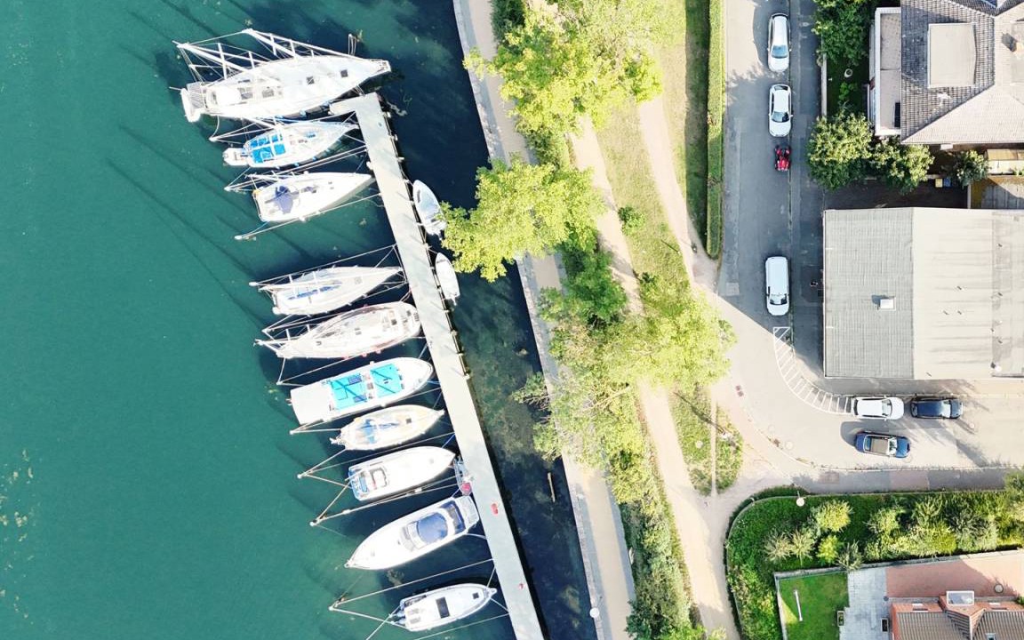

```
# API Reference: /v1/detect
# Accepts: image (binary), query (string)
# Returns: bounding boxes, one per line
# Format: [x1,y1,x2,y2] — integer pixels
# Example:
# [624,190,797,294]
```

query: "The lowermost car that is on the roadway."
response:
[855,434,911,461]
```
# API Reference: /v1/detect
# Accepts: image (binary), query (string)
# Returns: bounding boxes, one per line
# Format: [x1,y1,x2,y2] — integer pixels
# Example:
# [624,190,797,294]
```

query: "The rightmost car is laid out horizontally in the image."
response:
[911,397,964,423]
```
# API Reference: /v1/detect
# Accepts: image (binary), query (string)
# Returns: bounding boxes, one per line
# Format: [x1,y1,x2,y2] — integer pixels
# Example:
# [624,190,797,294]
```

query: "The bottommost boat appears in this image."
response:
[330,565,508,636]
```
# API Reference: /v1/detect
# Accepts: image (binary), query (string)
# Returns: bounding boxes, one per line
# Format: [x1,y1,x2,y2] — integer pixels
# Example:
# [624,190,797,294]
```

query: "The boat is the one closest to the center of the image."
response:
[435,251,461,303]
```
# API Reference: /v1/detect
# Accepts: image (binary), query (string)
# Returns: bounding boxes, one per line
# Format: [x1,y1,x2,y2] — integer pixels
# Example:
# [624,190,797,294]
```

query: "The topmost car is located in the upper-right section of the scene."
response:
[766,13,791,72]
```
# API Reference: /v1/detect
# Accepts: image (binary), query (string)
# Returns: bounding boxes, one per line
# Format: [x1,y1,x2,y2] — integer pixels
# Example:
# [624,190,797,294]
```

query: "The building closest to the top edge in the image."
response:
[871,0,1024,153]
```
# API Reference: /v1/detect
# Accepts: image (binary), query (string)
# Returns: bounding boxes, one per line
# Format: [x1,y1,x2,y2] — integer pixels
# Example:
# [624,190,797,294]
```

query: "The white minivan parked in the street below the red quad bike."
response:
[764,257,792,316]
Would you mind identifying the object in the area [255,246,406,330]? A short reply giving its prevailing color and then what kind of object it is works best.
white boat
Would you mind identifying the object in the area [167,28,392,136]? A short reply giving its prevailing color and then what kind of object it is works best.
white boat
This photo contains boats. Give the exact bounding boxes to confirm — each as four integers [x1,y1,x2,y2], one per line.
[330,565,508,636]
[255,291,426,383]
[435,251,461,303]
[319,488,485,597]
[455,457,472,495]
[211,111,364,187]
[226,153,380,238]
[413,180,446,237]
[280,347,440,432]
[167,28,392,136]
[255,246,406,330]
[296,394,452,476]
[300,435,455,524]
